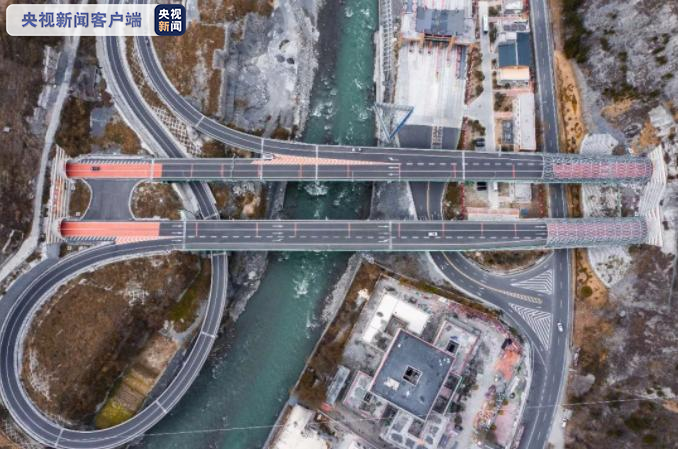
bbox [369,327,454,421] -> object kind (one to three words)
building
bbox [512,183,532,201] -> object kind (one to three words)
house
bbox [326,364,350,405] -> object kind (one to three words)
shed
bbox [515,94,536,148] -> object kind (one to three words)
house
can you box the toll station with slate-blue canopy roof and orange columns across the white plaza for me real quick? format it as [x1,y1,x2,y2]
[399,8,476,53]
